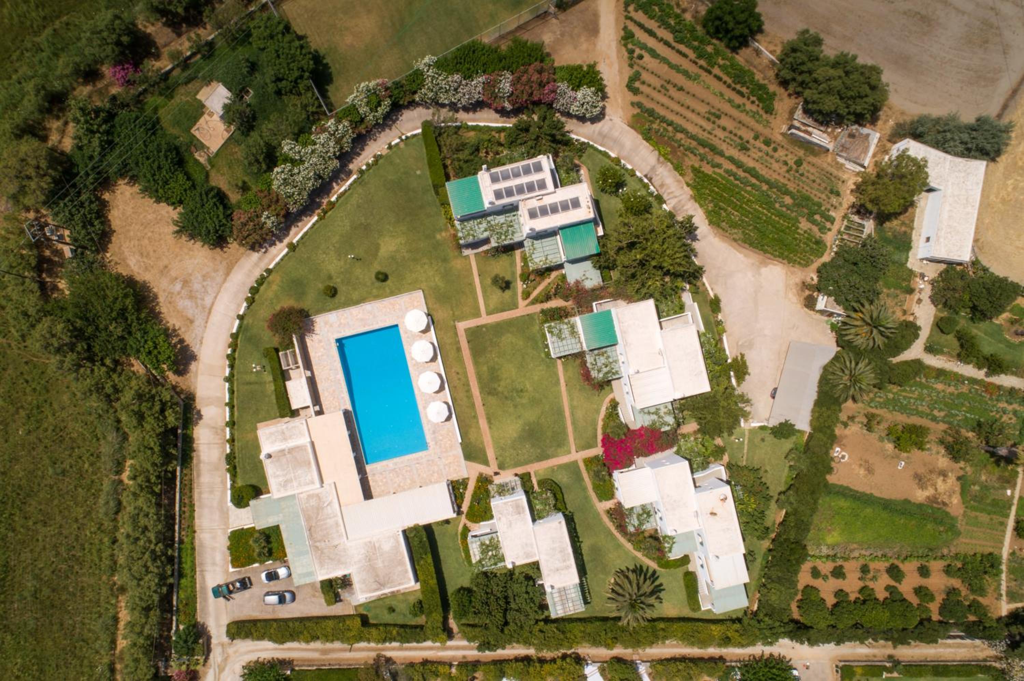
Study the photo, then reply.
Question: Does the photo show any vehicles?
Yes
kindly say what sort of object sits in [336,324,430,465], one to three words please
swimming pool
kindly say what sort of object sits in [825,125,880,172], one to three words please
shed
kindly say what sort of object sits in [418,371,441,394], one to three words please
umbrella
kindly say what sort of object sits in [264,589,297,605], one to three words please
car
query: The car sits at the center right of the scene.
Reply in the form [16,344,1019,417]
[765,387,778,399]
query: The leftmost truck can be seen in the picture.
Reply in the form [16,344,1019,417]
[211,575,254,602]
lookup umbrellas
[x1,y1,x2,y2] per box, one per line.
[418,371,441,394]
[405,309,428,332]
[427,401,449,423]
[411,340,433,362]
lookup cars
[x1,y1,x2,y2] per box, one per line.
[264,589,297,605]
[261,565,292,582]
[765,387,778,399]
[786,665,801,681]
